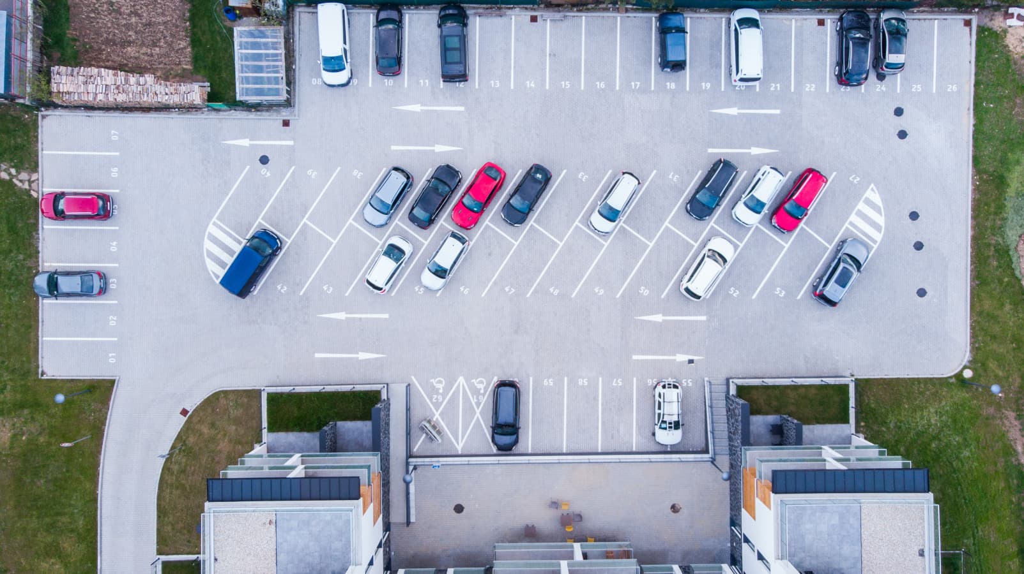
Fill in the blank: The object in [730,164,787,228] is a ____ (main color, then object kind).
white car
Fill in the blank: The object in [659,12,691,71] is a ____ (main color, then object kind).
blue car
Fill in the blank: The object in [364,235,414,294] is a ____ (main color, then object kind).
white car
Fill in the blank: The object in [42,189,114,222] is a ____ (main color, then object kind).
pink car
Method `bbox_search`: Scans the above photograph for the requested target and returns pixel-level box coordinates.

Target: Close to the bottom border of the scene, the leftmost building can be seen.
[200,435,390,574]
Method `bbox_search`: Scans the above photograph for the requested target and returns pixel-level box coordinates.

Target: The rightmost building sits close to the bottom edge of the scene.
[727,428,939,574]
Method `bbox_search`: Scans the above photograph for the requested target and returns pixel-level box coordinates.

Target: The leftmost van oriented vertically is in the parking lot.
[314,1,352,85]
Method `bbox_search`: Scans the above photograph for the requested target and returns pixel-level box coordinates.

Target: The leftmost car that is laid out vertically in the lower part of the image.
[490,380,522,450]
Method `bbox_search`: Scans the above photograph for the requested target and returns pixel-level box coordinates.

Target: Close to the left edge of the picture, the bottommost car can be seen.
[36,269,108,299]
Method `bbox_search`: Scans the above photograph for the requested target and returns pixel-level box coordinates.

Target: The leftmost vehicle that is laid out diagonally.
[214,227,283,301]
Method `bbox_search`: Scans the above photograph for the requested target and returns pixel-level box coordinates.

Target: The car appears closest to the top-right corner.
[872,9,911,76]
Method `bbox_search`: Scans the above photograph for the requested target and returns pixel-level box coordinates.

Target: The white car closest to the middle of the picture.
[420,230,471,290]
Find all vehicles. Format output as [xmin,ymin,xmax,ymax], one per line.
[314,1,352,85]
[684,157,739,221]
[490,380,522,450]
[769,166,830,234]
[372,6,404,76]
[659,12,691,71]
[36,269,108,299]
[420,230,471,290]
[730,164,787,228]
[588,170,642,236]
[363,165,415,228]
[364,235,414,294]
[872,9,911,76]
[409,164,462,229]
[214,227,283,301]
[809,236,868,309]
[653,380,686,444]
[679,236,733,302]
[451,162,507,230]
[42,189,114,222]
[729,9,766,86]
[501,164,552,227]
[834,9,875,86]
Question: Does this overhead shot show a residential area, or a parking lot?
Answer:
parking lot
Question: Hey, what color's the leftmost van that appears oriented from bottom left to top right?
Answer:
blue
